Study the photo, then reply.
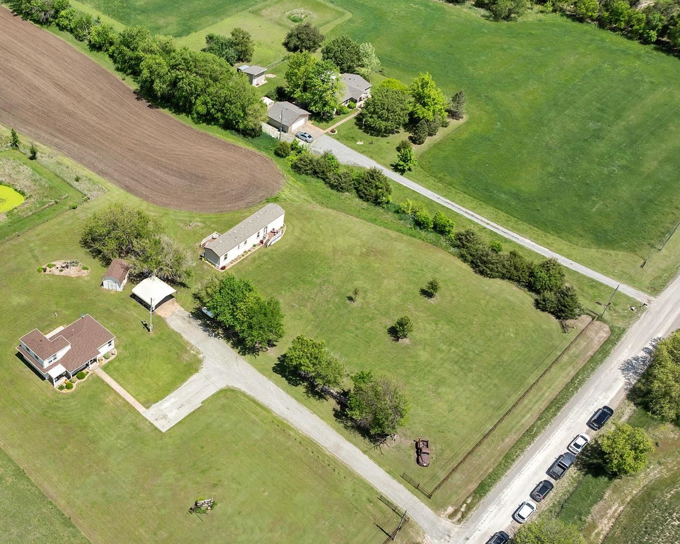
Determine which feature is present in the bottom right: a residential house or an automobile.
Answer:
automobile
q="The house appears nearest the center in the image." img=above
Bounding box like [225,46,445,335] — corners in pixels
[195,203,288,266]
